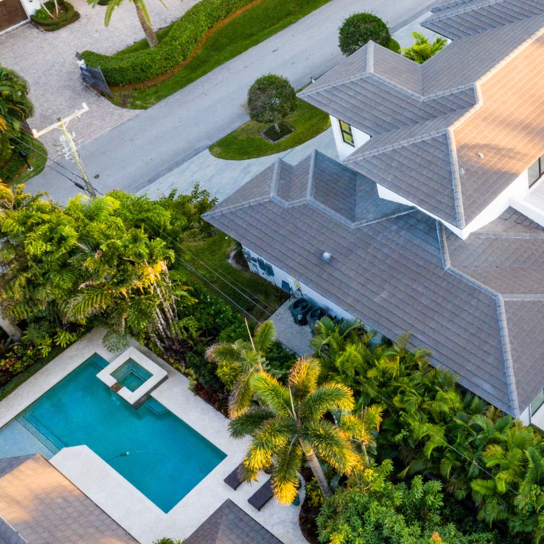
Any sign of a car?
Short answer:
No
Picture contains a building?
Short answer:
Yes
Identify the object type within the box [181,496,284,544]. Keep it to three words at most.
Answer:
building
